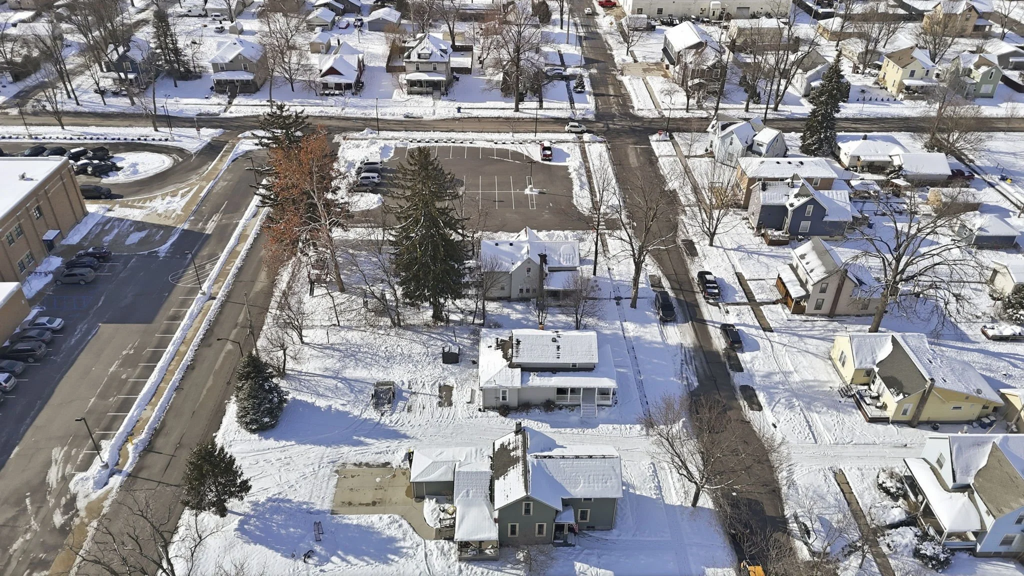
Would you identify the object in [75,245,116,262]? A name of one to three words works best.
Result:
car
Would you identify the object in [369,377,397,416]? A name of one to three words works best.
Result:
trailer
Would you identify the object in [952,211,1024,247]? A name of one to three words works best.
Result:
building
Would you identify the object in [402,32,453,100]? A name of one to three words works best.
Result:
house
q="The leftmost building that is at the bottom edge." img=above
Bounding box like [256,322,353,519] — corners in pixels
[405,418,623,558]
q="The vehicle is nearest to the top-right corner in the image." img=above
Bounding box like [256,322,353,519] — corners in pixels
[947,166,982,182]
